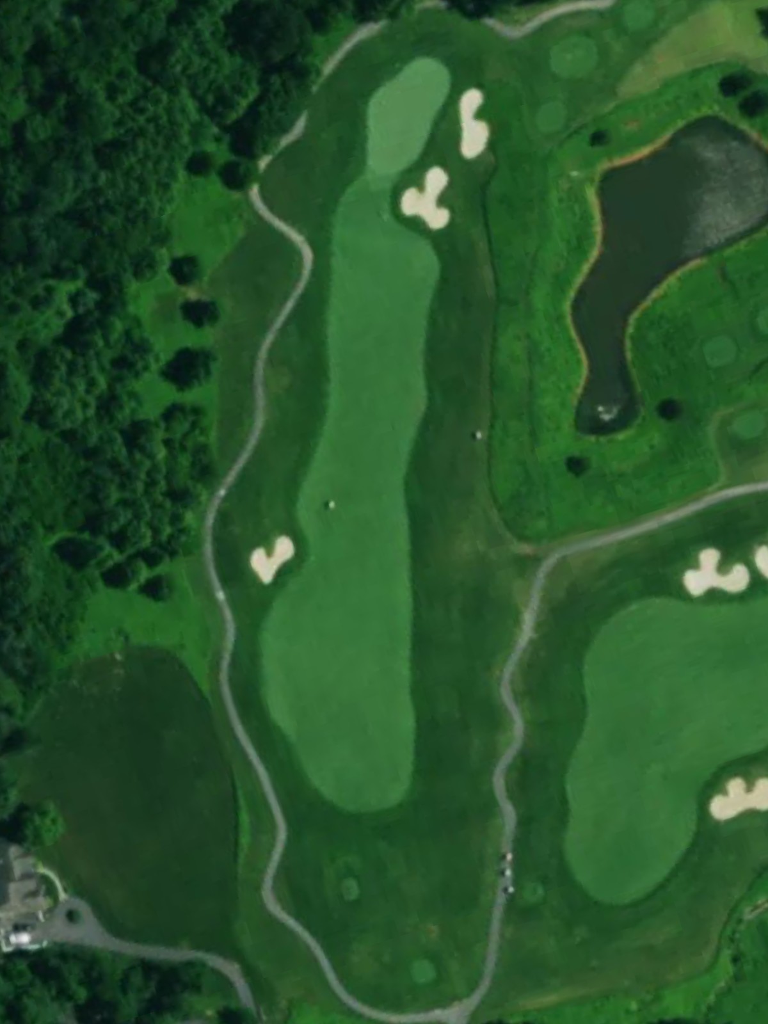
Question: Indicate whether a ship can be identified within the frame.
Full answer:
No, there is no ship in the image.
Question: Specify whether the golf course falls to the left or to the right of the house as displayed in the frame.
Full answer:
Looking at the photo, the golf course lies to the right of the house.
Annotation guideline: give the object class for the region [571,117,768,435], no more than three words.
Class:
pond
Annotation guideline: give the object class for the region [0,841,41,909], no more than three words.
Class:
house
